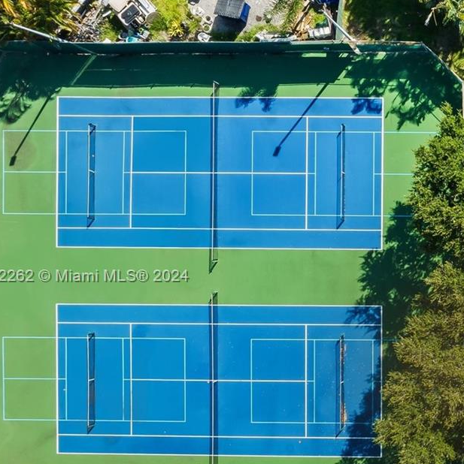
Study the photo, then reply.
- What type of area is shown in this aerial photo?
sports ground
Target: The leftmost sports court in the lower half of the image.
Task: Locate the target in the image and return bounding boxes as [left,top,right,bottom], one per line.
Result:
[2,337,187,422]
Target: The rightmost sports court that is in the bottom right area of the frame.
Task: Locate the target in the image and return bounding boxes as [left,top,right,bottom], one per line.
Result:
[249,338,433,424]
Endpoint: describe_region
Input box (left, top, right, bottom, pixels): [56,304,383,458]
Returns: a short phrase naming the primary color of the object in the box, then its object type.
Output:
blue tennis court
